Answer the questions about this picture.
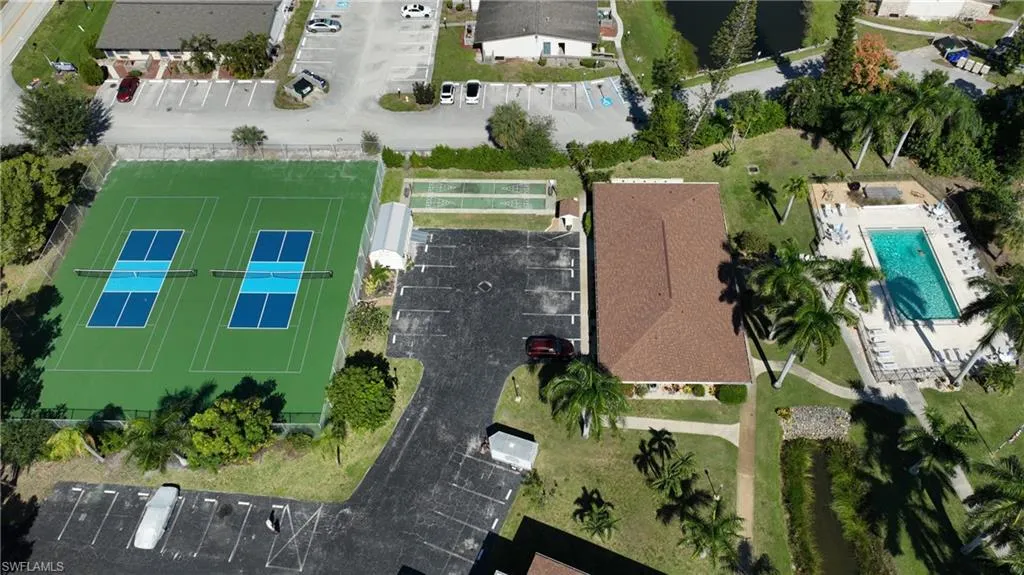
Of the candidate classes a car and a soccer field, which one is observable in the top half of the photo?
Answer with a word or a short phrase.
car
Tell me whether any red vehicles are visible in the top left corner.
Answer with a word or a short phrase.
Yes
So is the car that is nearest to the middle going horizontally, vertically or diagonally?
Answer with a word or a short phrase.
horizontally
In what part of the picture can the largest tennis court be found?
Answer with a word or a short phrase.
left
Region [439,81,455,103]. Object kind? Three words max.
car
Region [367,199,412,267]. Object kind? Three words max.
shed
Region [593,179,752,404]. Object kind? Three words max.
building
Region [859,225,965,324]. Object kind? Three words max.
swimming pool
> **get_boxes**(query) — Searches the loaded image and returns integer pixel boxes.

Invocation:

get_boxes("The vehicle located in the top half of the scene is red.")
[116,75,137,100]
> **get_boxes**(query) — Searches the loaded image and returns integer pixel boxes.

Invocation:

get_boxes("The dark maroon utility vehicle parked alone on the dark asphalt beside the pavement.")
[526,335,575,361]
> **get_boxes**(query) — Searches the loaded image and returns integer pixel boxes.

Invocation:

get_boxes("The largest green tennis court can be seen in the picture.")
[1,160,379,450]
